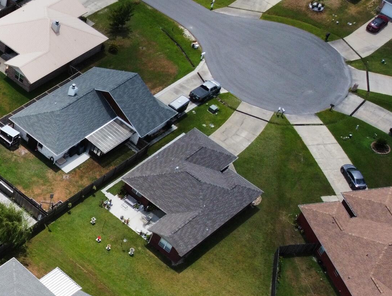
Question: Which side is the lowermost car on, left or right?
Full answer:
The lowermost car sits on the right side.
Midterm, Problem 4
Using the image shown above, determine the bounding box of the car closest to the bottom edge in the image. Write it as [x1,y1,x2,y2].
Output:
[345,159,375,190]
